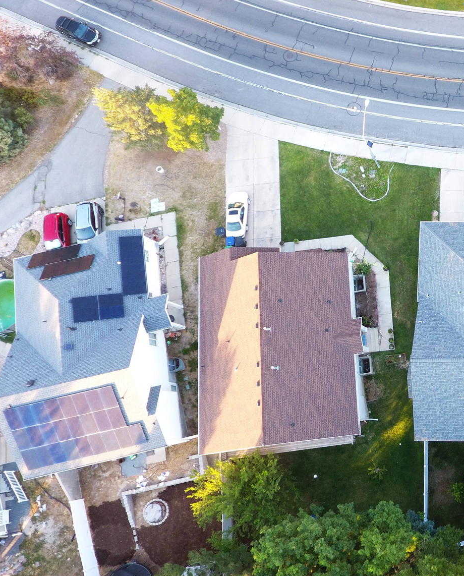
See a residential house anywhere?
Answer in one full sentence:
Yes, the photo shows a residential house.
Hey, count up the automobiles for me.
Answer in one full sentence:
The picture shows 4 automobiles.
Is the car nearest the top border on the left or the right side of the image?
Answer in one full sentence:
The car nearest the top border appears in the left half of the scene.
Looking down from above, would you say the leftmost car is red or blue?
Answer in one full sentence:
The leftmost car is red.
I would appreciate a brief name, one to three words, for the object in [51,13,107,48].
car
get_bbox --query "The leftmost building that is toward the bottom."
[0,228,186,481]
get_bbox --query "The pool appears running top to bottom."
[0,279,16,335]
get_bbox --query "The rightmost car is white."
[225,192,249,241]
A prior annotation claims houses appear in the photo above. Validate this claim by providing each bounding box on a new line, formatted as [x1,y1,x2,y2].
[0,228,186,481]
[198,246,383,459]
[408,220,464,442]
